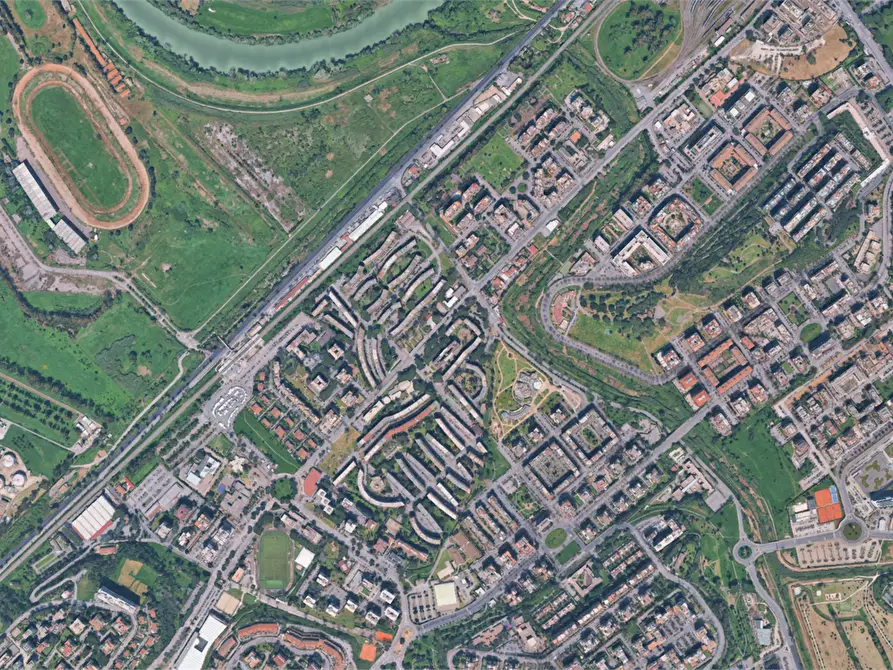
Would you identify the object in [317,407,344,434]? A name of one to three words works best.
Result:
building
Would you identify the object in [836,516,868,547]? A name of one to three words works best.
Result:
roundabout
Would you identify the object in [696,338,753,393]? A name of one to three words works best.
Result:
house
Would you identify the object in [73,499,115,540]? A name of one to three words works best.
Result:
shed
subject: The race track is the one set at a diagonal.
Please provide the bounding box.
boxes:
[11,64,148,229]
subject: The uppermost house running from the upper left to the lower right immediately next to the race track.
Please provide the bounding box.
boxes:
[72,18,106,66]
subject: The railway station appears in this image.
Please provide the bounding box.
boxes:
[215,334,262,380]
